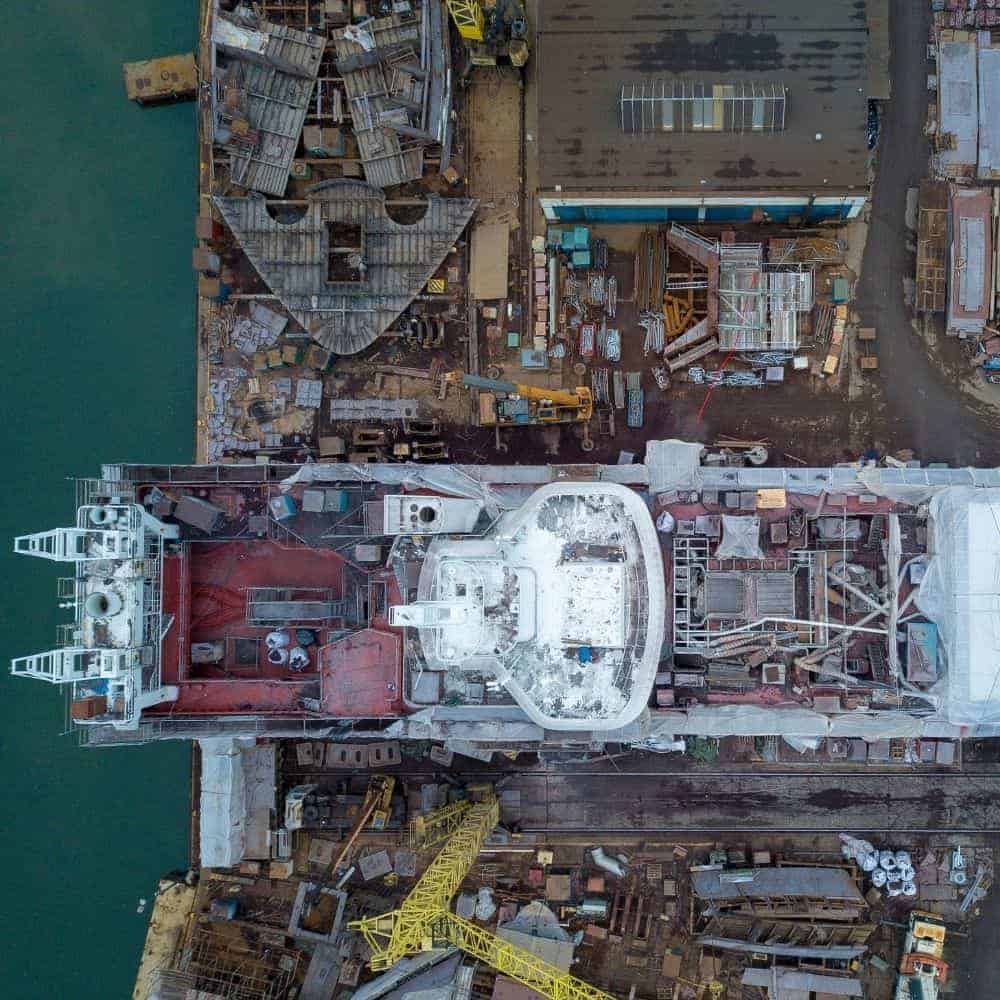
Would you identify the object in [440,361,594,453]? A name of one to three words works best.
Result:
crane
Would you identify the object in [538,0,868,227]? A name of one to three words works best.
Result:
building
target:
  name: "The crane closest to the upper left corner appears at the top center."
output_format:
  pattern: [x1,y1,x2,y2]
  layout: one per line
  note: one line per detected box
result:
[443,0,529,74]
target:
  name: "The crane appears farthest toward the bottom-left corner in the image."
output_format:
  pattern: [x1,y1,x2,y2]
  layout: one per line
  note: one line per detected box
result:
[331,771,399,875]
